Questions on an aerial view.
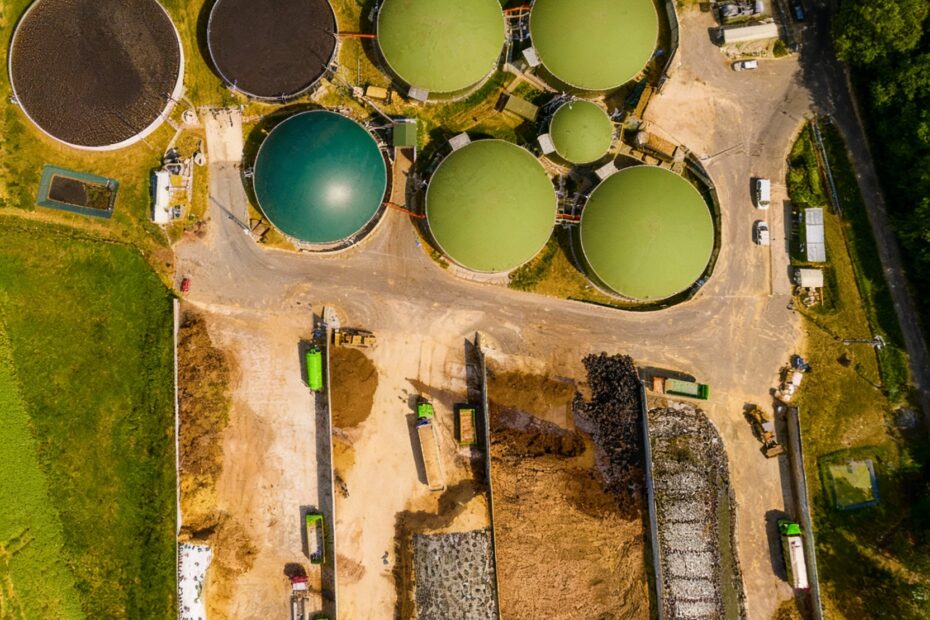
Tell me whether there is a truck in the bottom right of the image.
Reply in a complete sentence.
Yes, looking in the bottom right of the image, one can make out a truck.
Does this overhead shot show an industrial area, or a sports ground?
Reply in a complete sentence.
The picture captures an industrial area.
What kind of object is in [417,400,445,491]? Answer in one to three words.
truck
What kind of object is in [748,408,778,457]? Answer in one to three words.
work vehicle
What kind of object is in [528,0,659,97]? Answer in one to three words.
storage tank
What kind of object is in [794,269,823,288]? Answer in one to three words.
shed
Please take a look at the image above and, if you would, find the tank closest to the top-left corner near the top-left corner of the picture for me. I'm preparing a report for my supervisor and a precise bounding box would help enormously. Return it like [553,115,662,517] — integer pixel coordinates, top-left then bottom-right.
[8,0,186,152]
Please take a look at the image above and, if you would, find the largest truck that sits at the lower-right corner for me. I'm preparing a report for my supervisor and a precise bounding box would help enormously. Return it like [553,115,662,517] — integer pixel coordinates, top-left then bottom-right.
[775,516,806,595]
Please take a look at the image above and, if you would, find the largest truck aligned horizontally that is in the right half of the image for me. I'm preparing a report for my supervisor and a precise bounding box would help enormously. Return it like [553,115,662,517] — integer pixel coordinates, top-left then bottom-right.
[646,375,710,398]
